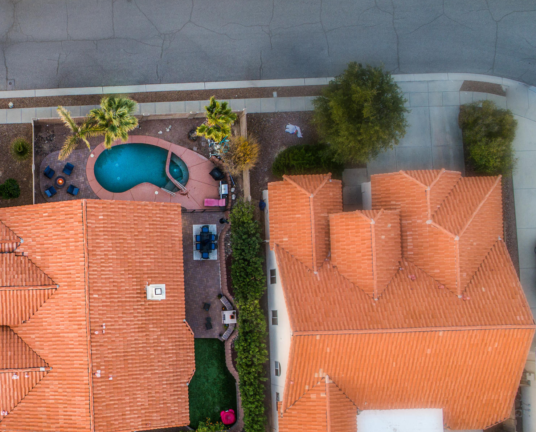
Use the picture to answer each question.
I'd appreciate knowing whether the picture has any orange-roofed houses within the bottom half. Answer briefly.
Yes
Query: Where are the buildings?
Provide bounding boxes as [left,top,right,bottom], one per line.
[262,167,536,432]
[0,198,198,432]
